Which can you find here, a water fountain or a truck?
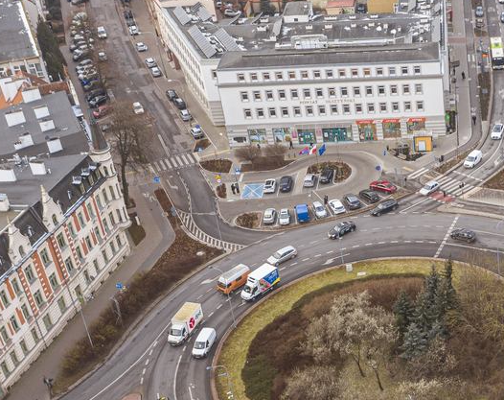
truck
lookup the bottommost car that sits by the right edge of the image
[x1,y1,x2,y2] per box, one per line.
[447,226,479,242]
